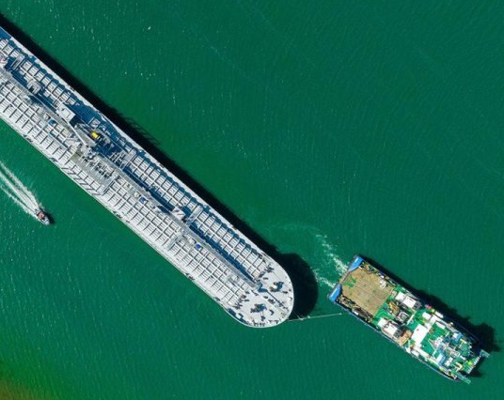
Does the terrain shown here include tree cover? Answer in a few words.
No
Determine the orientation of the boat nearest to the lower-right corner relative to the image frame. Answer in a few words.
on a diagonal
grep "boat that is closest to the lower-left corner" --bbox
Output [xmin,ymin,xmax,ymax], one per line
[35,208,50,224]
